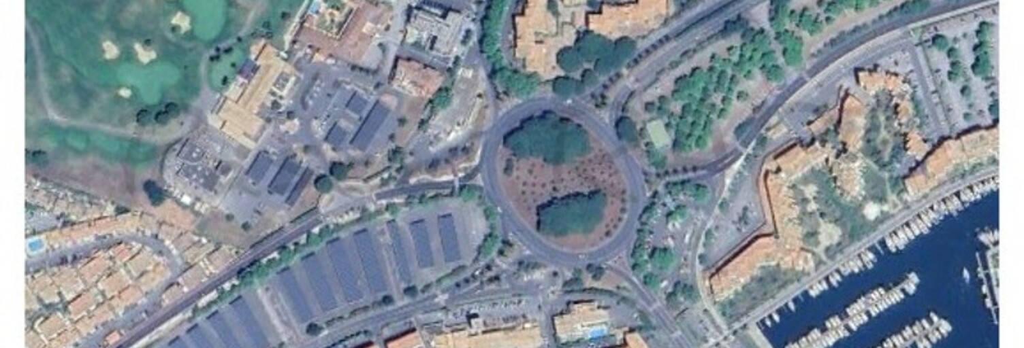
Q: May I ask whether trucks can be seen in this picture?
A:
No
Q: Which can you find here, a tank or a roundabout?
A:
roundabout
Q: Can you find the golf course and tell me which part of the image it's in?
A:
top left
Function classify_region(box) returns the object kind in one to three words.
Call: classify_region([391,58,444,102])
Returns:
house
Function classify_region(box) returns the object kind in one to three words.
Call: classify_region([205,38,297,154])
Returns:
building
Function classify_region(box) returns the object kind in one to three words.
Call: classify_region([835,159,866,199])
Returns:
building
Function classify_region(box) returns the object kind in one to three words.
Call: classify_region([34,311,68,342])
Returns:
house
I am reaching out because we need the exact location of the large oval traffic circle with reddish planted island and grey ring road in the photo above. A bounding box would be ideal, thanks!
[477,95,651,281]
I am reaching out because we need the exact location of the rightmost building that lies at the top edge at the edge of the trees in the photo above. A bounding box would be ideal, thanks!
[588,0,670,39]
